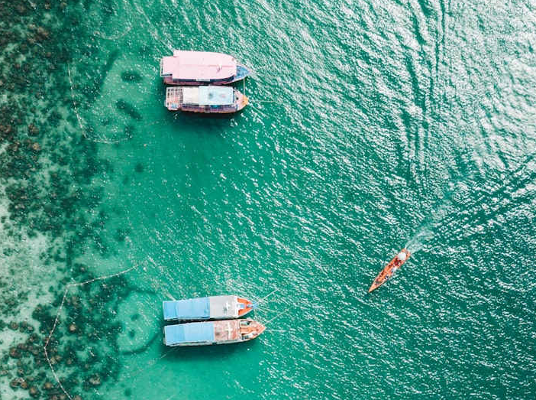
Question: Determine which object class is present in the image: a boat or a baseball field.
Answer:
boat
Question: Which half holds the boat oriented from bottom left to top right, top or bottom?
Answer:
bottom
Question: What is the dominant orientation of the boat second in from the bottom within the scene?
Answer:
from side to side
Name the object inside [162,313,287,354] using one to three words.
boat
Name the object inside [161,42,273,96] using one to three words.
boat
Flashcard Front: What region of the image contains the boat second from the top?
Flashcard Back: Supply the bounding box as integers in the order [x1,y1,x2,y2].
[163,86,262,120]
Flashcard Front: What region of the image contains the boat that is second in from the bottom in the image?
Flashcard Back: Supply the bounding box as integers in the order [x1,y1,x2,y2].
[162,291,274,320]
